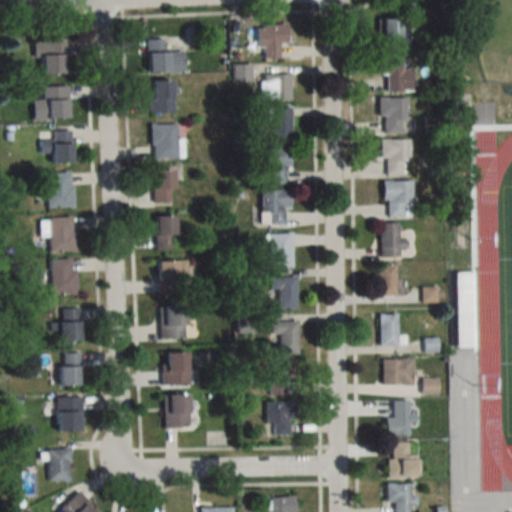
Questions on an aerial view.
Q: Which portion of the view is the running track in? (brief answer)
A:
right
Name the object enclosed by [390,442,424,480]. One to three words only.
house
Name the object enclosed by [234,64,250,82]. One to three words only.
building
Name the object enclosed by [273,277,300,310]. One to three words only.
house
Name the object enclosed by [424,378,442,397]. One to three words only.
shed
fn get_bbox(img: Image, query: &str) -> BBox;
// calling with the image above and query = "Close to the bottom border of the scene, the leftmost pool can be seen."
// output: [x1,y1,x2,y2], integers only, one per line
[22,466,38,496]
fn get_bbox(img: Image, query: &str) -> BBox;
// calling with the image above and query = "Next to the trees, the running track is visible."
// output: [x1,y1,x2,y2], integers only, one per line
[478,124,512,492]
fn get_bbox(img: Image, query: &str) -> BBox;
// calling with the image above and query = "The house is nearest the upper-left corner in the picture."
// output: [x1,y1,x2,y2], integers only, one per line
[34,40,68,74]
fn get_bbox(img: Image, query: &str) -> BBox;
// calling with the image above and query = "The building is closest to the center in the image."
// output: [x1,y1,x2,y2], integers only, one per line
[270,233,296,270]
